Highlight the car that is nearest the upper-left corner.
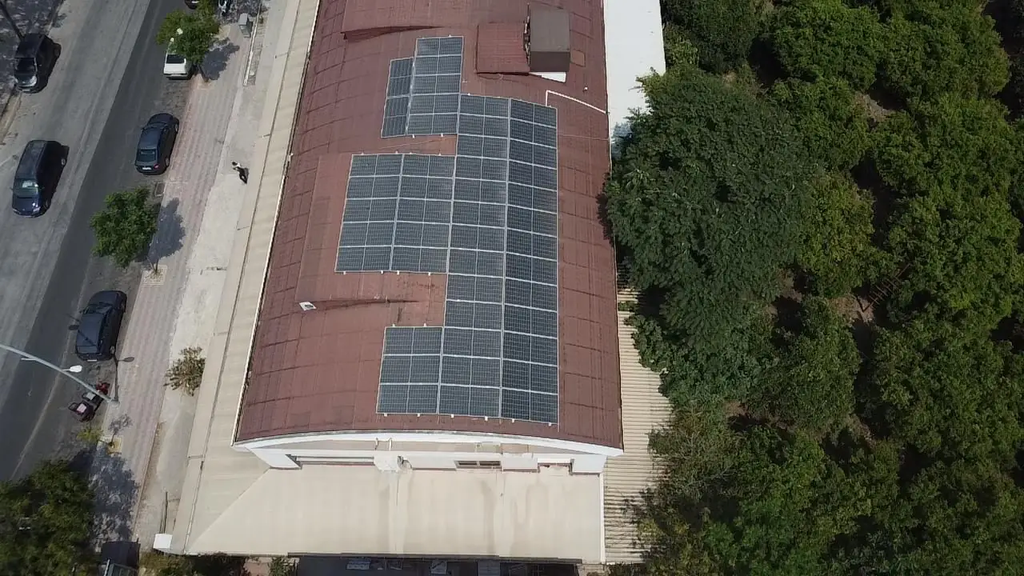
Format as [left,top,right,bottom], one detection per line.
[12,45,60,101]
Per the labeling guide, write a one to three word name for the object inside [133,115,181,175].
car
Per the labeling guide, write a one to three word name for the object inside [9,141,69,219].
car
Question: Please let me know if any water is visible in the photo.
No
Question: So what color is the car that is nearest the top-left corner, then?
black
